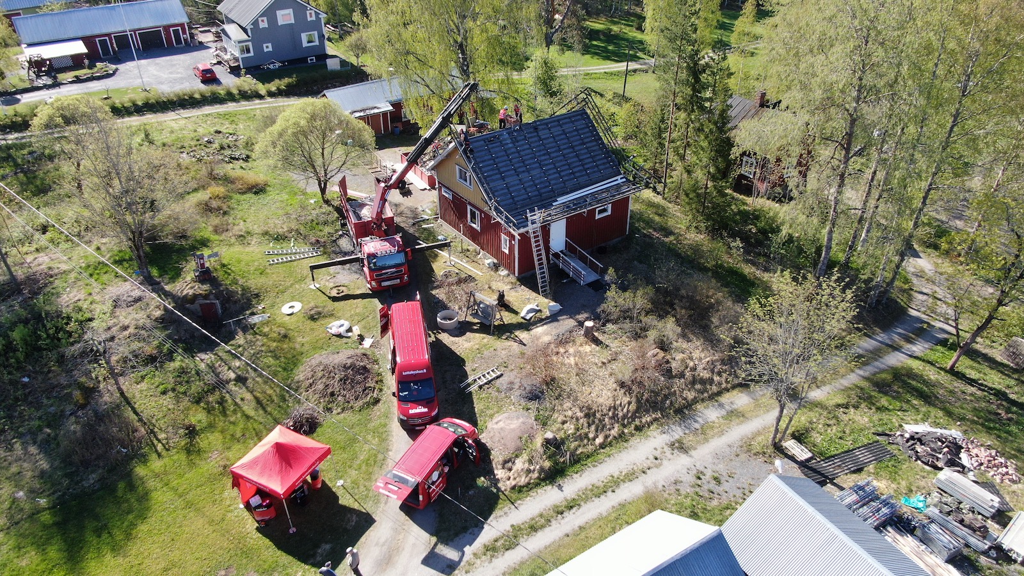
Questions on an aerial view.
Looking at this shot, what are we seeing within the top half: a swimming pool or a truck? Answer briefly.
truck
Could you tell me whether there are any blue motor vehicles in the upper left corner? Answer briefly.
No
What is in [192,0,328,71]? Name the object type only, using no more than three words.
house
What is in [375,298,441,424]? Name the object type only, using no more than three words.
van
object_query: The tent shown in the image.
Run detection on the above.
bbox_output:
[229,425,340,532]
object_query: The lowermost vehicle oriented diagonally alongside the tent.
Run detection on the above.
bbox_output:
[372,420,480,504]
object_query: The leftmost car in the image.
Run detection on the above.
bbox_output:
[195,63,213,79]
